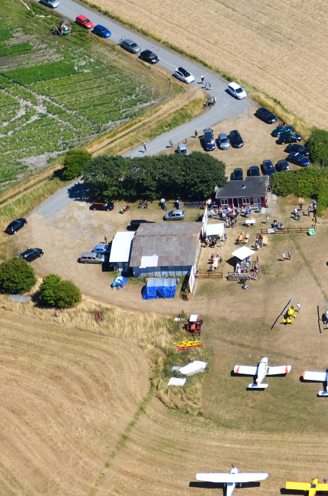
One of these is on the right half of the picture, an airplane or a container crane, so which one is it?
airplane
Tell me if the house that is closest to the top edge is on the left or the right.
right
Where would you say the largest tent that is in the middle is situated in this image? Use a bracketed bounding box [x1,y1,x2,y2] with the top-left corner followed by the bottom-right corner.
[141,277,177,298]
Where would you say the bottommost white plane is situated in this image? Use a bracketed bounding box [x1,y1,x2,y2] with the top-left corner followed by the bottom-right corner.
[194,466,267,496]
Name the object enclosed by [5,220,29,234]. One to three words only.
vehicle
